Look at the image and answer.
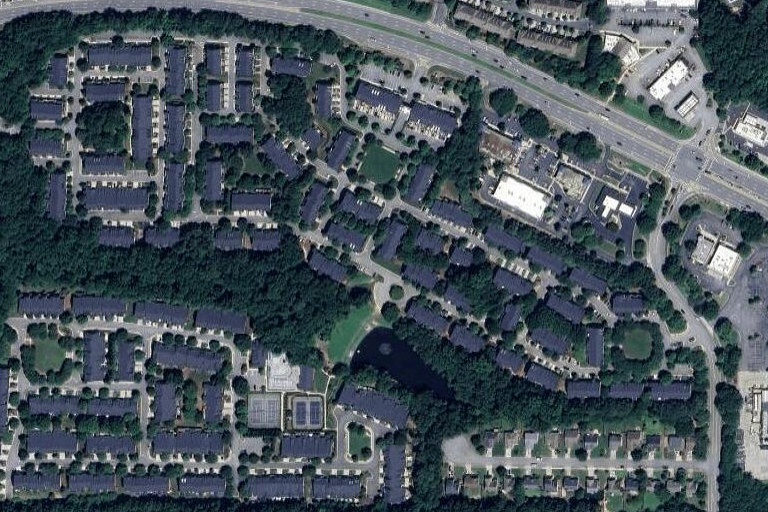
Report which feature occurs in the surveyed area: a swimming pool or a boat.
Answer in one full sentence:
There is a swimming pool in the scene.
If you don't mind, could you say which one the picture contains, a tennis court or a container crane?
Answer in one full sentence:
The image shows a tennis court.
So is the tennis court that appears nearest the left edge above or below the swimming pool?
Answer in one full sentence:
In the image, the tennis court that appears nearest the left edge appears below the swimming pool.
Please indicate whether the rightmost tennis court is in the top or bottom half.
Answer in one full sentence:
It is in the bottom half that the rightmost tennis court appears.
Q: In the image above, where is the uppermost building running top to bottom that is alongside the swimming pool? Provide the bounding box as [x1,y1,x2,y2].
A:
[252,340,265,365]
